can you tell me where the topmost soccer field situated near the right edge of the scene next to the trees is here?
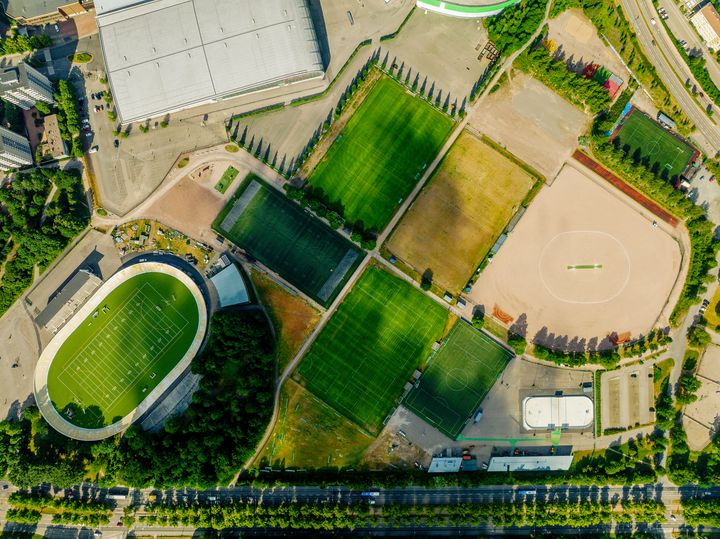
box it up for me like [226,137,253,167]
[612,105,702,183]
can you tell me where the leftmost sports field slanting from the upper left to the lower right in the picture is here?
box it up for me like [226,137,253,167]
[211,172,366,309]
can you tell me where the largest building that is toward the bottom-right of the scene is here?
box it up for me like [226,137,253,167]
[486,453,574,472]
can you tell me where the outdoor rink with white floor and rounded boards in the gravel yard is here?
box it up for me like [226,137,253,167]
[519,388,598,434]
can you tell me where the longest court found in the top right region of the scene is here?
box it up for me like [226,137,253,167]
[584,62,622,97]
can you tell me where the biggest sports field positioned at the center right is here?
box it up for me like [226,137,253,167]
[470,163,682,352]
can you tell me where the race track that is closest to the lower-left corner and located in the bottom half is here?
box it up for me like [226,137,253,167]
[33,261,209,441]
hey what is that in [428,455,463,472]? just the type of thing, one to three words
building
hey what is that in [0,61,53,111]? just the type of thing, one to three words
building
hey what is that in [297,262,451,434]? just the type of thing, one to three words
soccer field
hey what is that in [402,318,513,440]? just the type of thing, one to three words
soccer field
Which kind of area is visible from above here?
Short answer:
sports ground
